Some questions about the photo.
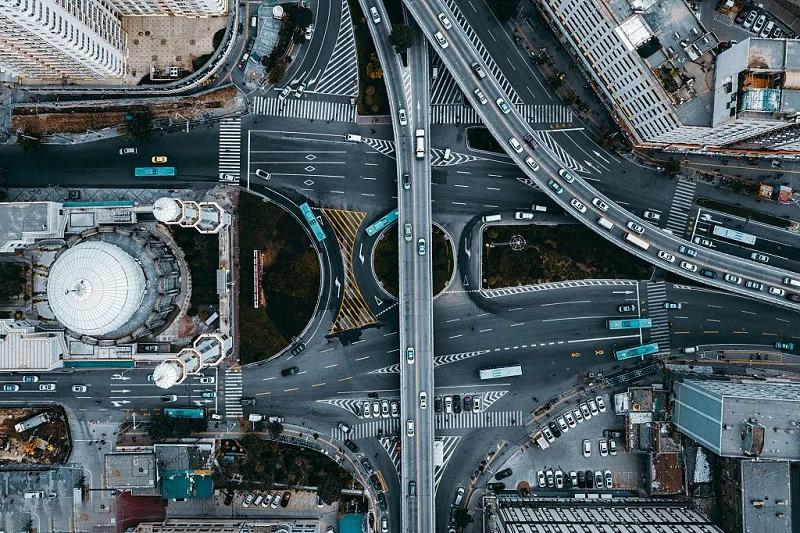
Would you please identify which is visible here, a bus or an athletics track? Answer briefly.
bus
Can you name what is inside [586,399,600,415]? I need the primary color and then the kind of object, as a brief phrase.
white car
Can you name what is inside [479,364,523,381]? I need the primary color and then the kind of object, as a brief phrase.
white vehicle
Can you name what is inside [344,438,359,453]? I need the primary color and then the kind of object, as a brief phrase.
black car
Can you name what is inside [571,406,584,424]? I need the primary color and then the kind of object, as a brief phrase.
white vehicle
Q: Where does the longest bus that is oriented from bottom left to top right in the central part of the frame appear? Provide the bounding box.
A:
[363,204,399,239]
